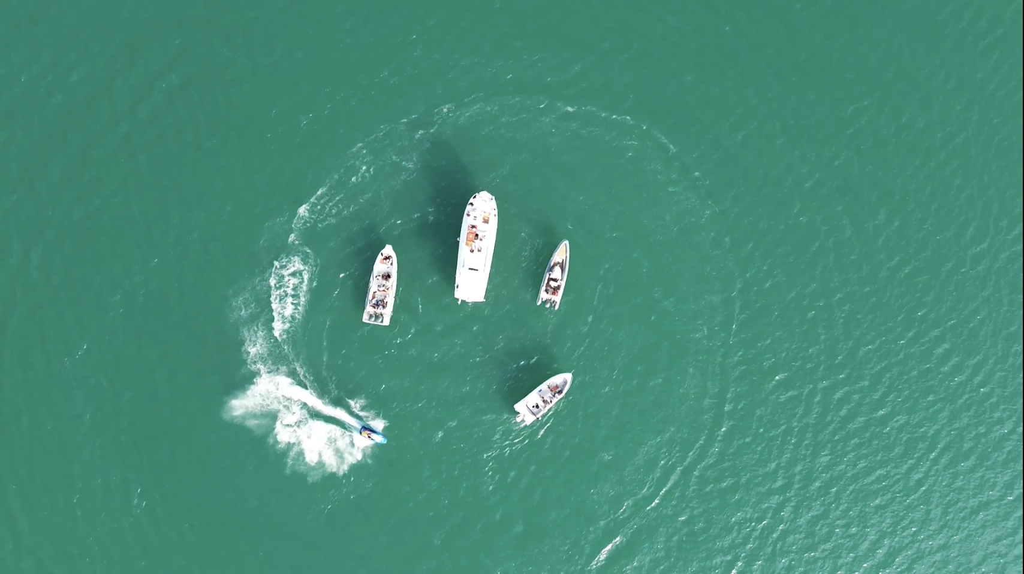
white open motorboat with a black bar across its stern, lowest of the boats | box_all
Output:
[513,371,574,427]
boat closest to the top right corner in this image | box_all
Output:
[537,239,571,310]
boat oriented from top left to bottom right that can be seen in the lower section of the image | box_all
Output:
[358,423,386,443]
